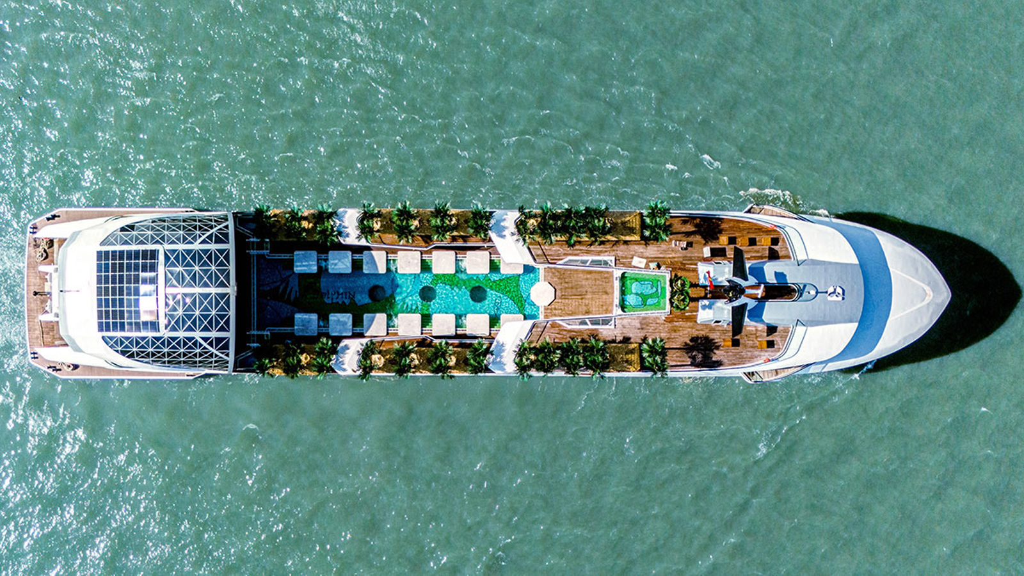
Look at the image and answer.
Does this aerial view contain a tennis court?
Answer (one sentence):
No, the frame has no tennis court in it.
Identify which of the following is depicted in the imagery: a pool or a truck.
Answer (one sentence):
It is a pool that can be seen here.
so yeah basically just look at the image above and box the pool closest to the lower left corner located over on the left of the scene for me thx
[257,254,544,333]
